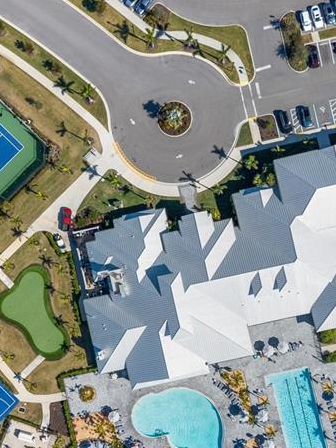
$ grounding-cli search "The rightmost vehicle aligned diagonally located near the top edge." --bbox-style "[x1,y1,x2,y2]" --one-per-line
[134,0,153,18]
